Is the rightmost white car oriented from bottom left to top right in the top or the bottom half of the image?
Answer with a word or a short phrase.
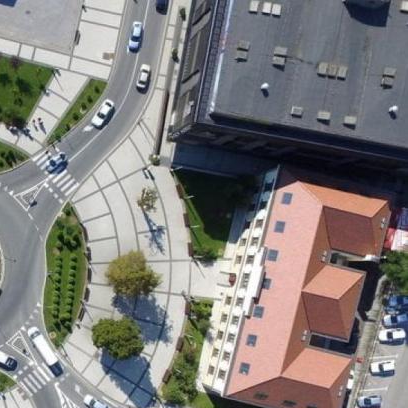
top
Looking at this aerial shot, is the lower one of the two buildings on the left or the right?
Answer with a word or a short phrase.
right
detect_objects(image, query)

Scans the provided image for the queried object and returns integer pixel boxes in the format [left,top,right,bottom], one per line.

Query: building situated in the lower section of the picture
[204,163,395,408]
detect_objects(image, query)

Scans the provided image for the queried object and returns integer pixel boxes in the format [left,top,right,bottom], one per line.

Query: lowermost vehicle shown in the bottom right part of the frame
[355,394,381,407]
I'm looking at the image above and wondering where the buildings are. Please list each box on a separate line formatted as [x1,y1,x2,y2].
[172,0,408,175]
[204,163,395,408]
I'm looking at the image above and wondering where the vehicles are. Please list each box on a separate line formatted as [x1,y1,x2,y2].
[346,367,360,392]
[92,101,114,127]
[355,394,381,407]
[127,23,141,52]
[83,395,108,408]
[0,351,17,369]
[135,63,151,92]
[25,326,60,368]
[376,329,405,342]
[44,153,68,174]
[369,362,394,375]
[380,313,408,326]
